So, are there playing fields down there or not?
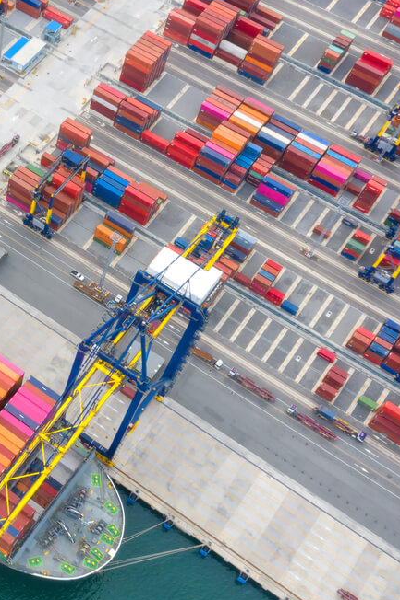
No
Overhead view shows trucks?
Yes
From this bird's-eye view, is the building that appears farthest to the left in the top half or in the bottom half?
top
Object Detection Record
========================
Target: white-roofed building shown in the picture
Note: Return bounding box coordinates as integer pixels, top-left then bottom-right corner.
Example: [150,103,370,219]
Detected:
[0,38,46,79]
